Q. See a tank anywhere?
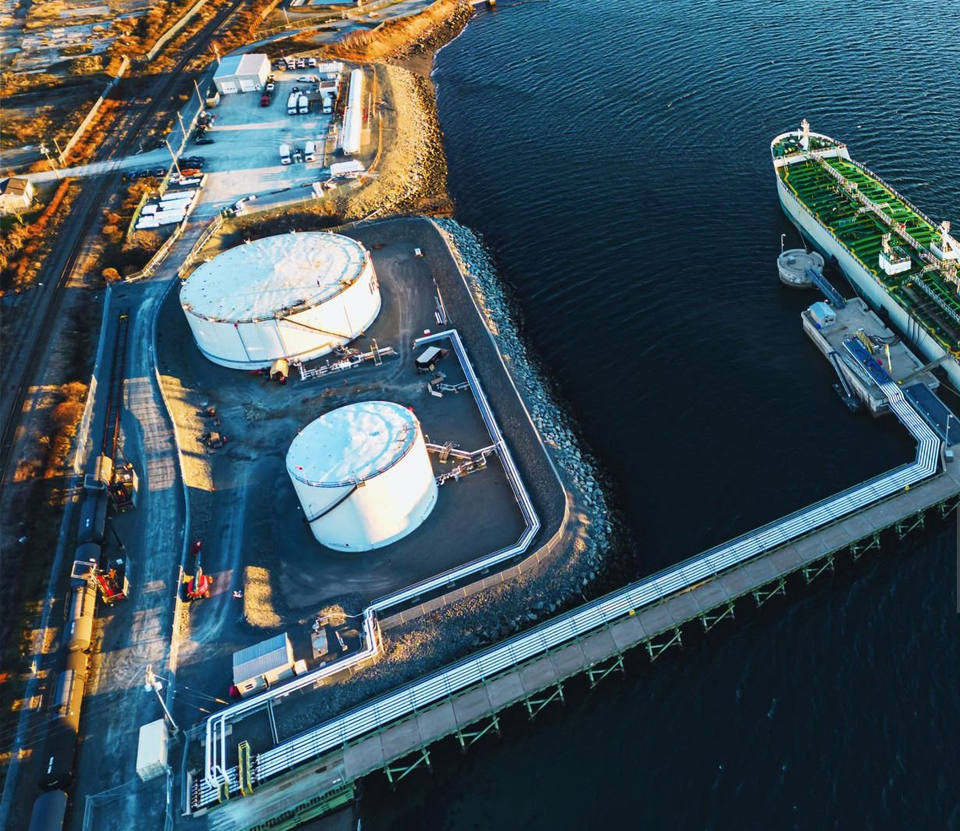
Yes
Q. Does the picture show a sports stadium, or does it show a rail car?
rail car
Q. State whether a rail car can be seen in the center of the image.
No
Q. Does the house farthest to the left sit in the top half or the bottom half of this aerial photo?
top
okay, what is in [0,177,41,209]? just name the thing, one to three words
house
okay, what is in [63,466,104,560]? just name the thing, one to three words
rail car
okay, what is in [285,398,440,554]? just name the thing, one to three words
storage tank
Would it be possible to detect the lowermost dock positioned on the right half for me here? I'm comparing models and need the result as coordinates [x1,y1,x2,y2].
[322,440,960,788]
